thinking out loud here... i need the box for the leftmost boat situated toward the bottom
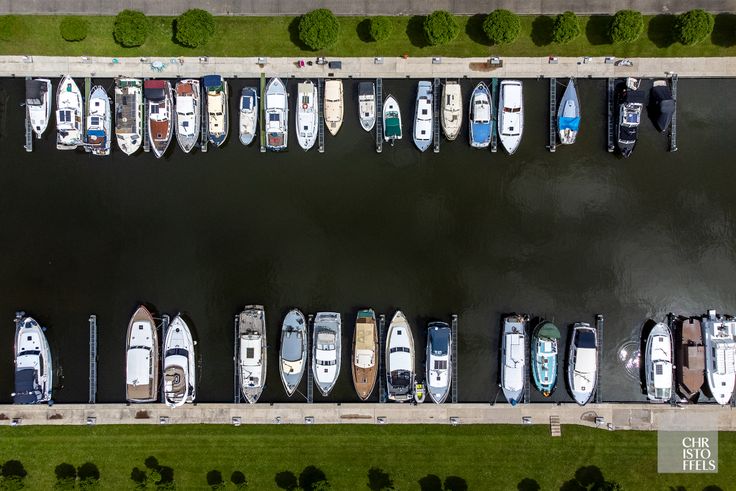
[11,318,57,406]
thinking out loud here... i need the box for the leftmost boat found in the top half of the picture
[24,75,57,142]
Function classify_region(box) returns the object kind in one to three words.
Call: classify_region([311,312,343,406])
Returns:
boat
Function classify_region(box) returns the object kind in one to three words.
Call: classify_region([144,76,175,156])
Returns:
boat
